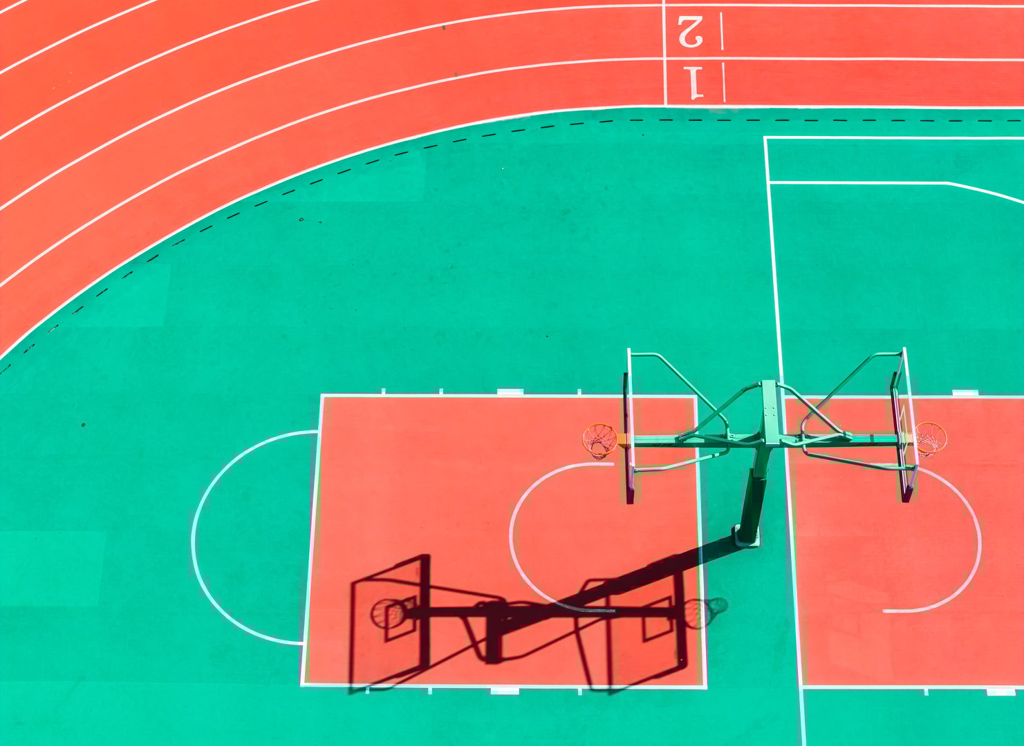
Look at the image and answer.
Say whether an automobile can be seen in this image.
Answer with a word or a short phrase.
No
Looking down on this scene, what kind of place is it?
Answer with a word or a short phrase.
sports ground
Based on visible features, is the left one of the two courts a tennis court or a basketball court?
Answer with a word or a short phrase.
basketball court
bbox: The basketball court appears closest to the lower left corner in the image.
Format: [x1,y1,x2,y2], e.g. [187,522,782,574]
[191,388,707,695]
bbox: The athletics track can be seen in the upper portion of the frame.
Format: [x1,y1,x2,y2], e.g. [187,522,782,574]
[0,0,1024,359]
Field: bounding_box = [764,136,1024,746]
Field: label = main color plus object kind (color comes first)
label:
red basketball court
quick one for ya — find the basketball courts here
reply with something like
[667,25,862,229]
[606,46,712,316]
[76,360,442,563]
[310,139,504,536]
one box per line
[191,388,707,695]
[764,136,1024,746]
